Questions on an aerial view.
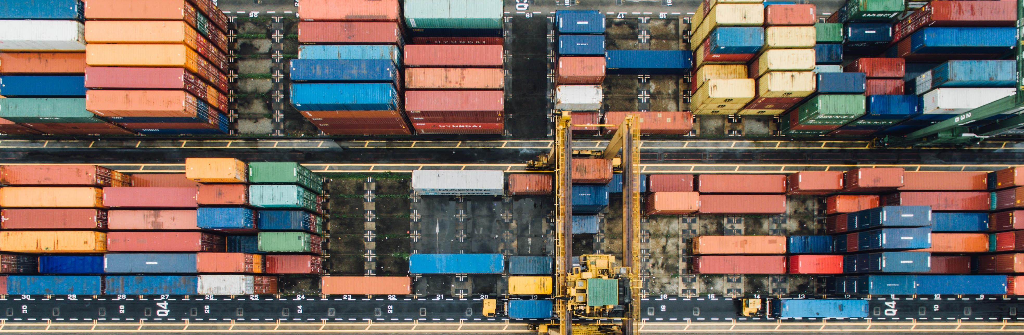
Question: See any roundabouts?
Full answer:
No, the frame has no roundabout in it.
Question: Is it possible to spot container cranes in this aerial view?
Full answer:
Yes, the picture does show a container crane.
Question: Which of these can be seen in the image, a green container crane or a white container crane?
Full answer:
The one in the frame is a green container crane.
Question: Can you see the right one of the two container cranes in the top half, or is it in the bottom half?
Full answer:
The top half of the photo is where the right one of the two container cranes is.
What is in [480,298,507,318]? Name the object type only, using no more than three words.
work vehicle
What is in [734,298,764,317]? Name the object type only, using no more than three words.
work vehicle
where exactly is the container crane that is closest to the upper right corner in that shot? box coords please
[869,0,1024,148]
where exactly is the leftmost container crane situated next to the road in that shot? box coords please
[525,110,642,335]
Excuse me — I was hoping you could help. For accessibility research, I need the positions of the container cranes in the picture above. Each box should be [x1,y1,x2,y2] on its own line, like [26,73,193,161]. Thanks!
[525,110,642,335]
[869,0,1024,148]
